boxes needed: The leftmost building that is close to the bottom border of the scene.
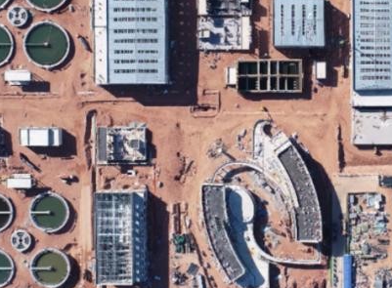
[95,190,146,285]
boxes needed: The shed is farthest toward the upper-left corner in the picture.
[5,70,32,83]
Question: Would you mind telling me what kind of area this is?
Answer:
industrial area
